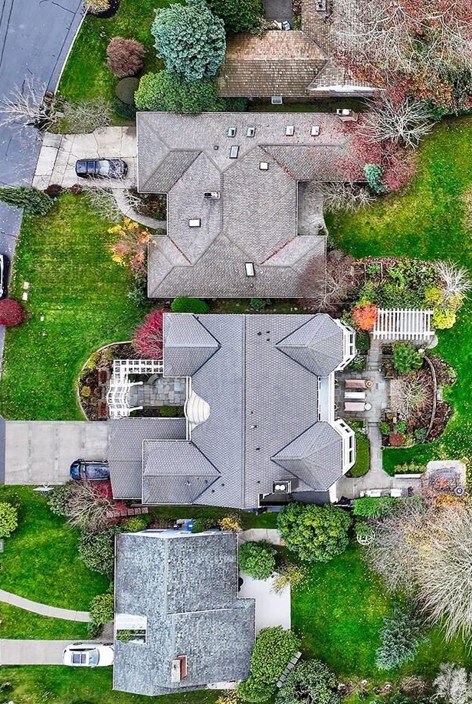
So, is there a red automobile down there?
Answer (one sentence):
No, there isn't any red automobile down there.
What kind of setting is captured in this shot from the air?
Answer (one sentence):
The picture captures a residential area.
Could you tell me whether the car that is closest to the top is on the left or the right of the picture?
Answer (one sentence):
It is on the left.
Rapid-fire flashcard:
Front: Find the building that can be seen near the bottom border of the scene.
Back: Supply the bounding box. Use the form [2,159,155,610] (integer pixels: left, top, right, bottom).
[113,527,264,694]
